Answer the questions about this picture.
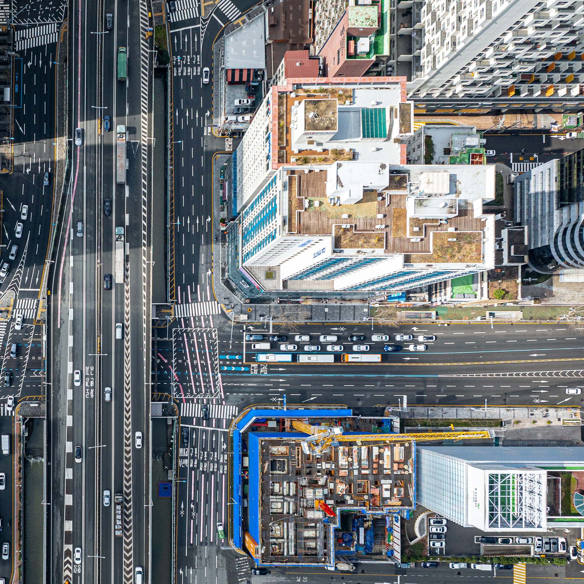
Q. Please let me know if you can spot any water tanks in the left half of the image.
No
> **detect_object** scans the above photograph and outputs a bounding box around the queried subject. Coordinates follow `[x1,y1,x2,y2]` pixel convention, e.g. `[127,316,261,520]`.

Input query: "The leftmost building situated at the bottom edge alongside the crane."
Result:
[248,432,417,565]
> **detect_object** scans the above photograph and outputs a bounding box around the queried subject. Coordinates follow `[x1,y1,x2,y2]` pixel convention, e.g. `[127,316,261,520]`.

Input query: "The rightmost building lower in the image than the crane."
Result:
[417,447,584,531]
